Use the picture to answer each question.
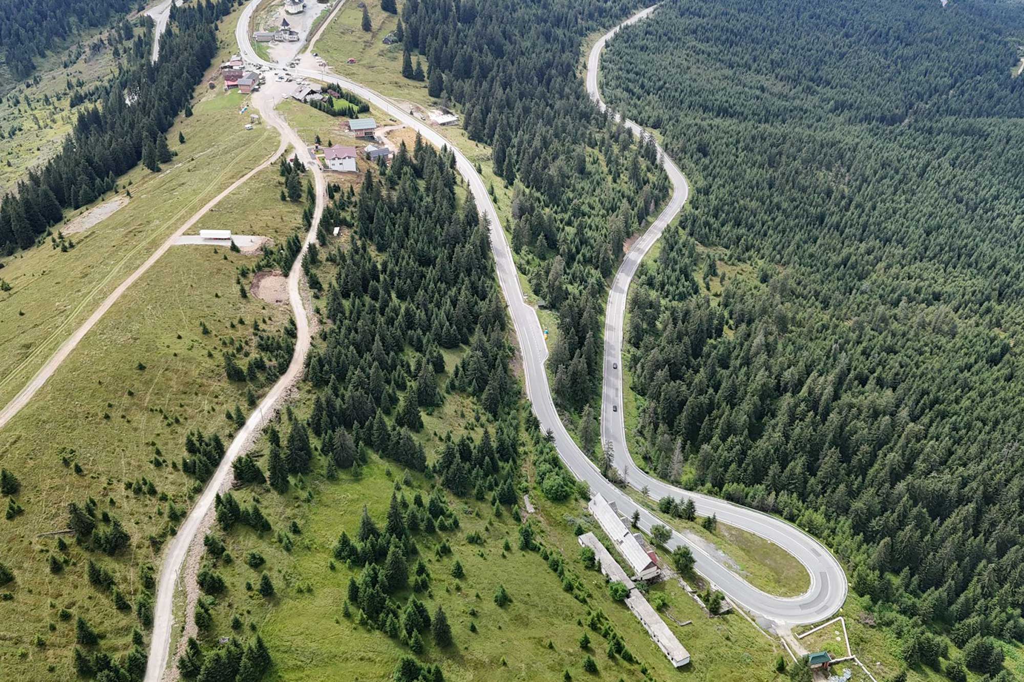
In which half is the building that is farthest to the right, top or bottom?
bottom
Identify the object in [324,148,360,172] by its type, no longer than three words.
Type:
house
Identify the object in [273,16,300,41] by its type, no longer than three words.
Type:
building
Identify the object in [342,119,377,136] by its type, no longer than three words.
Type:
house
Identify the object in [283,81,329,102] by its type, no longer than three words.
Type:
building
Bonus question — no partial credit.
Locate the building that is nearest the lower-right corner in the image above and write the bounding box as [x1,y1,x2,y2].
[804,648,833,668]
